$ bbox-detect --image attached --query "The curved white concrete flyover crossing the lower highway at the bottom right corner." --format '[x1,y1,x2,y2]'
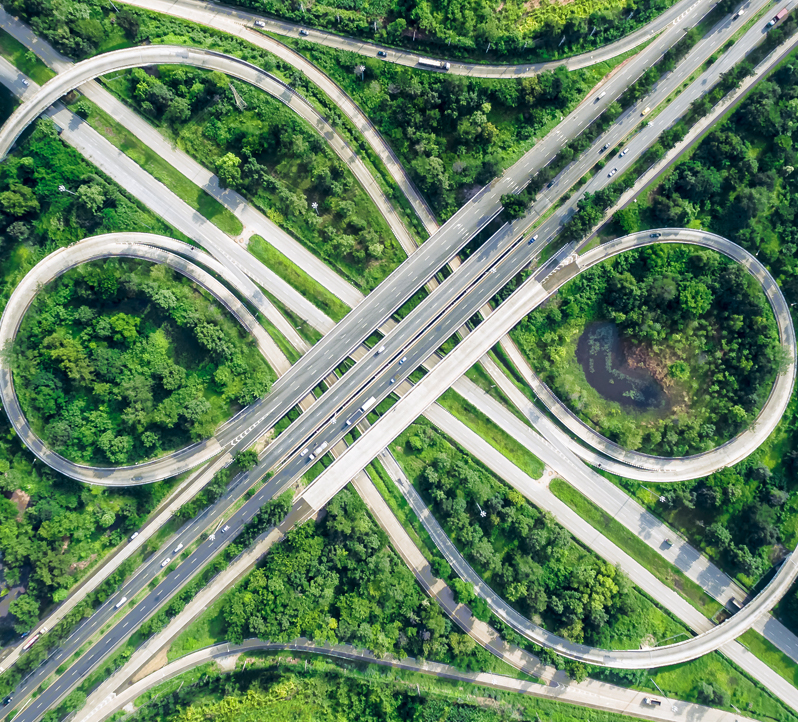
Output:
[689,541,798,660]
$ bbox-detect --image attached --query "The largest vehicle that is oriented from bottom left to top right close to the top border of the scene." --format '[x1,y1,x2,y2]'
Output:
[768,5,790,25]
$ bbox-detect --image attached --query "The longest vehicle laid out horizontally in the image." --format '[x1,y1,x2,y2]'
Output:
[418,57,450,69]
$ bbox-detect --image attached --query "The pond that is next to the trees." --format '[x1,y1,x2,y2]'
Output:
[574,320,669,409]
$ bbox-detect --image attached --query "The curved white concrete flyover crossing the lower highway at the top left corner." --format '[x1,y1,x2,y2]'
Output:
[0,51,112,172]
